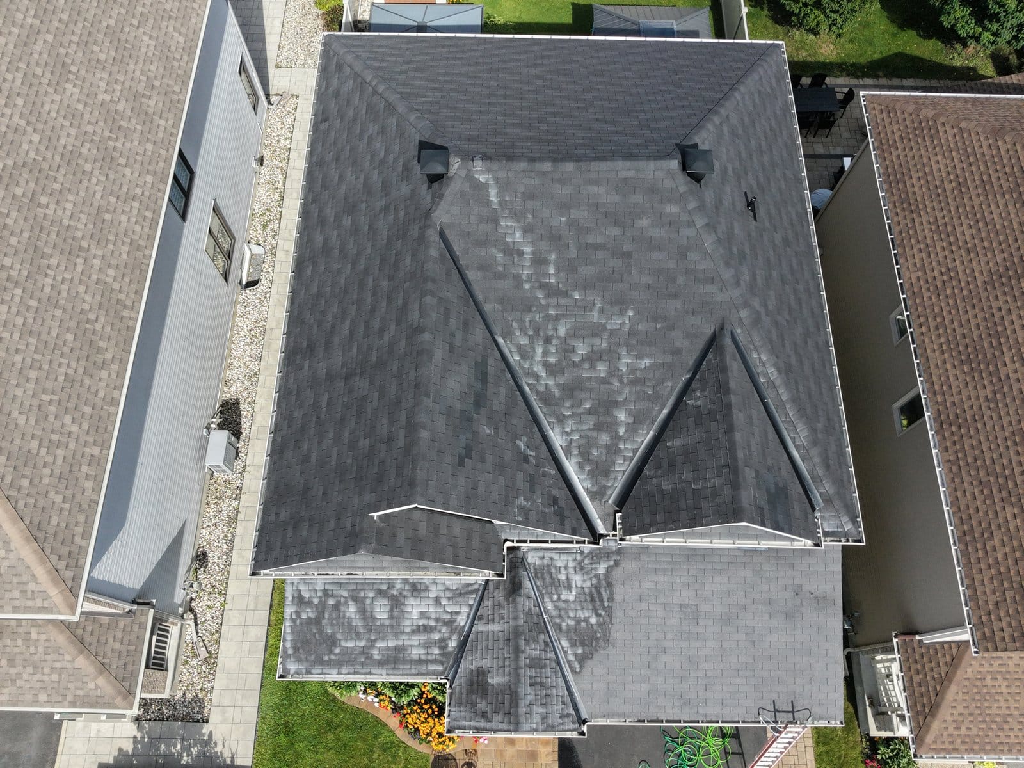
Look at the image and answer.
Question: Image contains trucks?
No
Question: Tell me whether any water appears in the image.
No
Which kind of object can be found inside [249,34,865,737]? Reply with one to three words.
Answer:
house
